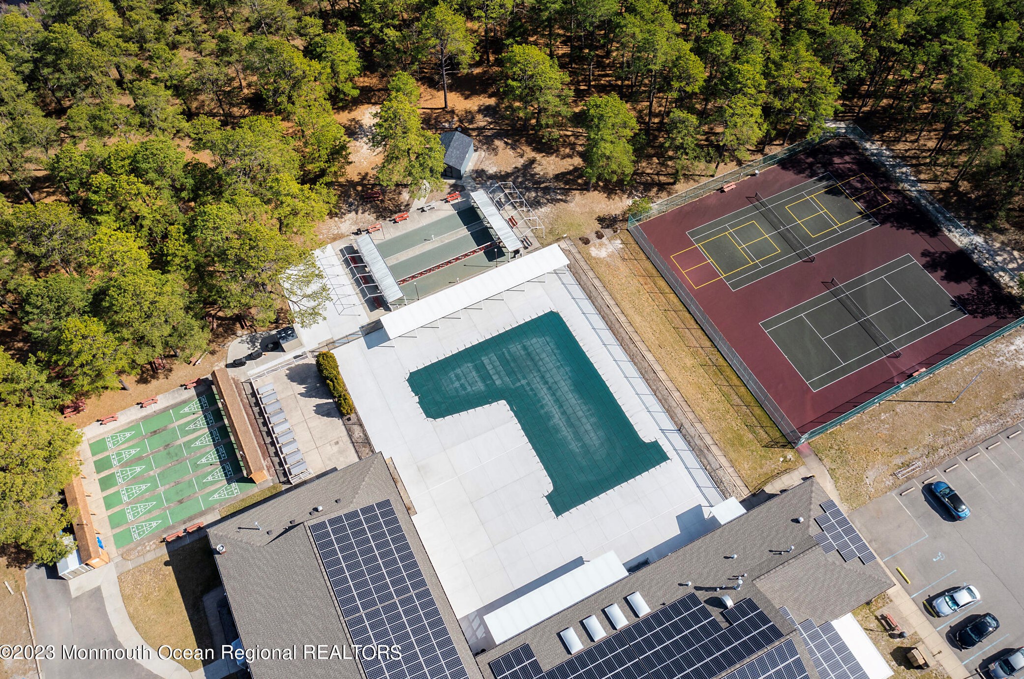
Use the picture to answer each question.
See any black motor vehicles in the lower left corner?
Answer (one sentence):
No, no black motor vehicle can be made out in the lower left corner.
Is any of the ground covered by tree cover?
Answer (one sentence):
Yes, there is tree cover in the image.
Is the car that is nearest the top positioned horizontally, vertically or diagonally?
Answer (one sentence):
From this overhead view, the car that is nearest the top appears to run diagonally.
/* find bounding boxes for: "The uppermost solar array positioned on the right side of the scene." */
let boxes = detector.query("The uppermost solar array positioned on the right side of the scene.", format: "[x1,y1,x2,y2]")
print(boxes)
[814,499,878,564]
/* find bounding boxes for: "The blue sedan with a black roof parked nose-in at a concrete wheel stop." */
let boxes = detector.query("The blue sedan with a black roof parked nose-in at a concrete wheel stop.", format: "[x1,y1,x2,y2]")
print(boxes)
[932,478,974,519]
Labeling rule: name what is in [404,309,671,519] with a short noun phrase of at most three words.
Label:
swimming pool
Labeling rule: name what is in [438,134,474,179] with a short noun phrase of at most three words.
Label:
shed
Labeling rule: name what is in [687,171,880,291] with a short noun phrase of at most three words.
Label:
tennis court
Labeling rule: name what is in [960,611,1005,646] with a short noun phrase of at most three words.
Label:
car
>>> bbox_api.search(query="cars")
[990,643,1024,679]
[960,611,1005,646]
[932,478,974,519]
[934,580,980,615]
